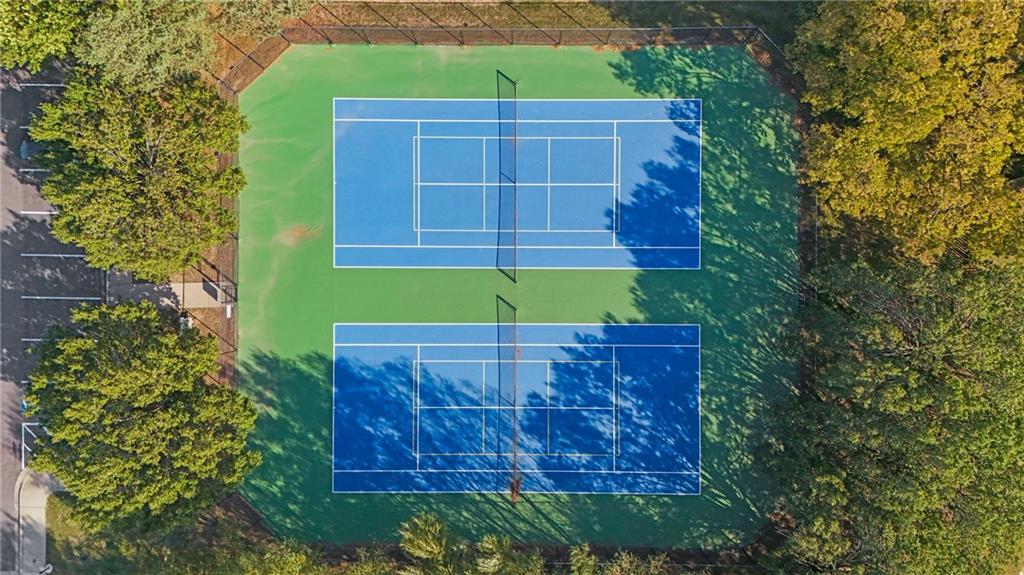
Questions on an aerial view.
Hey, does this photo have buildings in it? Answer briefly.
No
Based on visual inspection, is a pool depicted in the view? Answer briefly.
No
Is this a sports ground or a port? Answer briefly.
sports ground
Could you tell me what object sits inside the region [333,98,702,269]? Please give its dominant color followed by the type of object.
blue tennis court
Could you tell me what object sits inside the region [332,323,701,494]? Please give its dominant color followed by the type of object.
blue tennis court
